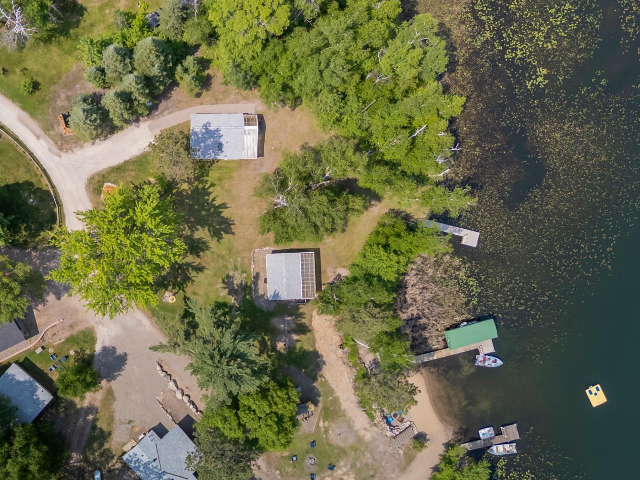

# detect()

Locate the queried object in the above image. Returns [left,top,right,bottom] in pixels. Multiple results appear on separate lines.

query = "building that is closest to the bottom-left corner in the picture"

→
[0,363,54,422]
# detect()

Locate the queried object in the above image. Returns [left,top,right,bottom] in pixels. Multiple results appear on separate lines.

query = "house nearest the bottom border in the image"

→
[122,425,203,480]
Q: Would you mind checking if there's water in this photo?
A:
Yes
